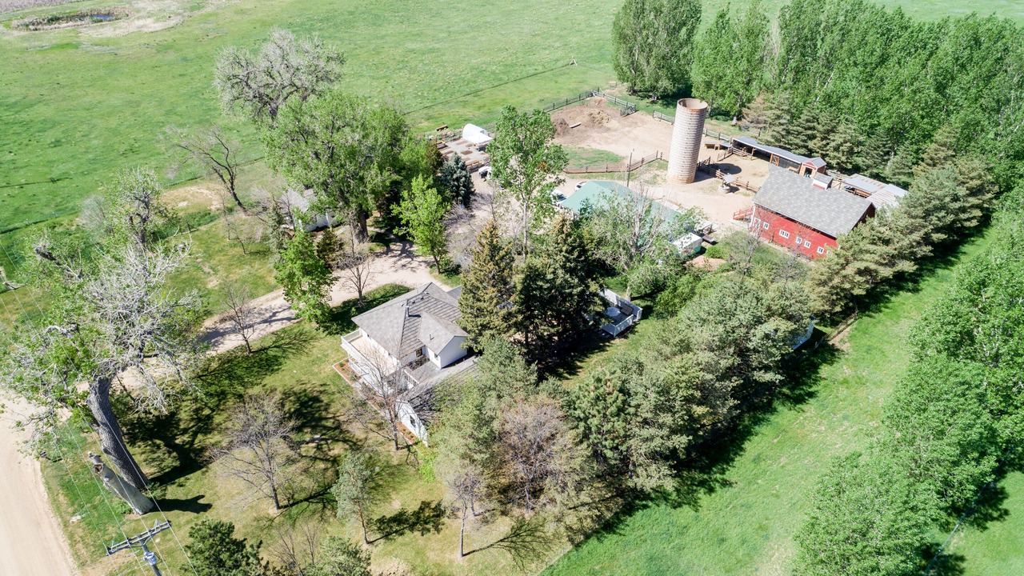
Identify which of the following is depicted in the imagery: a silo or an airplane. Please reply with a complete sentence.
It is a silo that can be seen here.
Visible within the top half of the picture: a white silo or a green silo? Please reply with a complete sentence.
Visible within the top half of the picture is a white silo.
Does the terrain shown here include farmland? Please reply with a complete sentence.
Yes, farmland shows up in the scene.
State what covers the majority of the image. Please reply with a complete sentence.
The bulk of the photo consists of trees.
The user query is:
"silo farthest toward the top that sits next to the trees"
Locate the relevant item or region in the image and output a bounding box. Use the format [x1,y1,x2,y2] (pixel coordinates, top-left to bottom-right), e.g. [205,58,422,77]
[667,96,709,184]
